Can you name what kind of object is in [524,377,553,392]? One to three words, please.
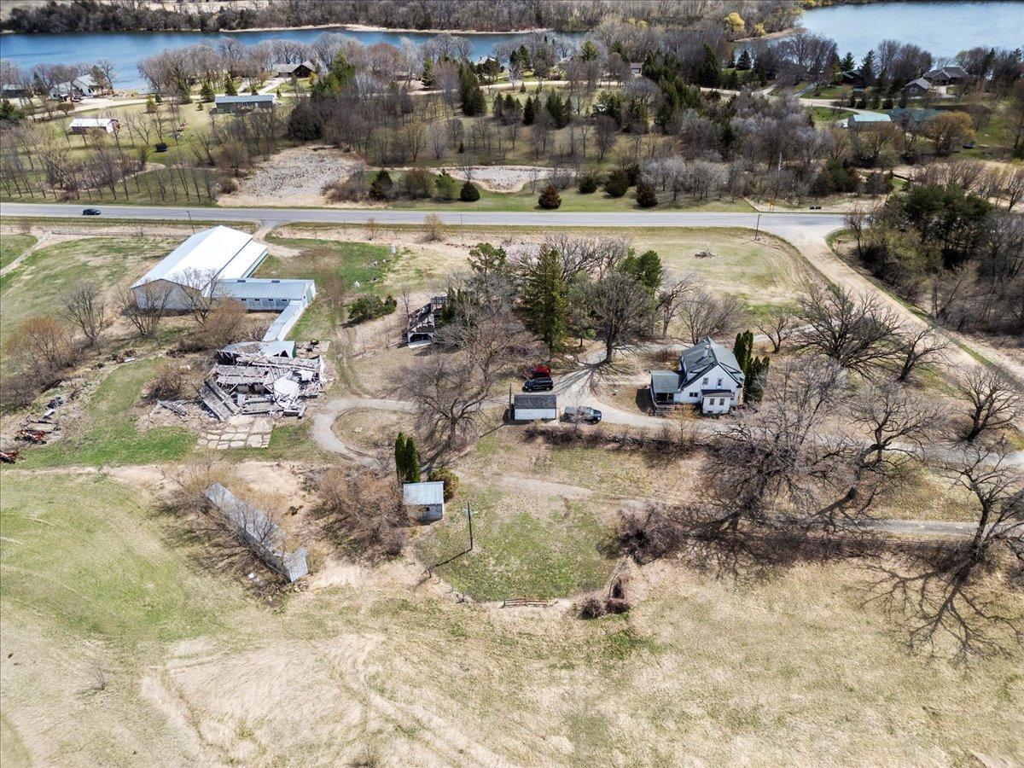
car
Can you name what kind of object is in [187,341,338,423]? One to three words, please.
barn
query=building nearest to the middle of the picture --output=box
[512,392,557,420]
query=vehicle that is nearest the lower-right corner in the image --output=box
[564,407,601,424]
